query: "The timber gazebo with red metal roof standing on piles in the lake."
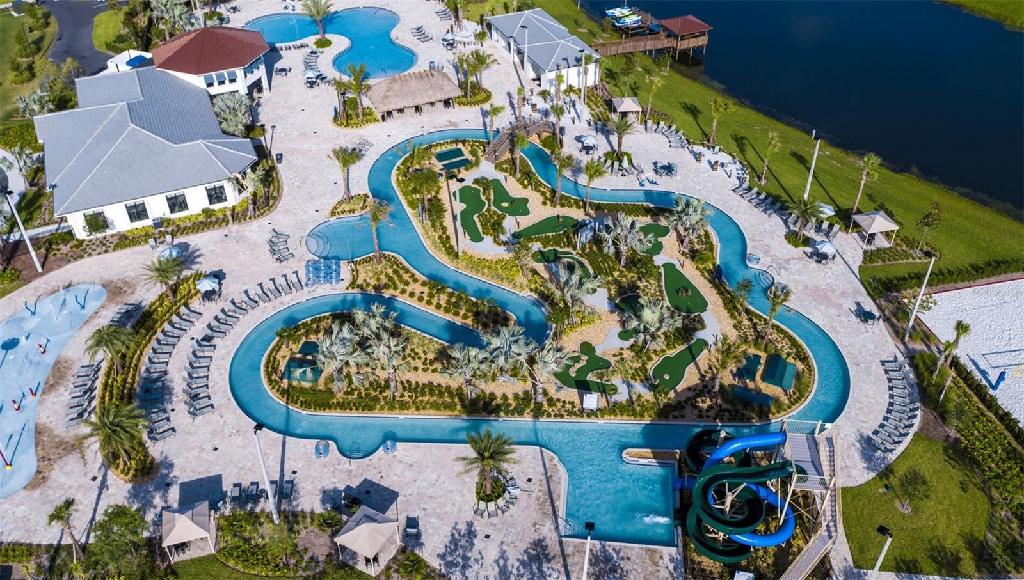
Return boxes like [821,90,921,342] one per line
[658,12,713,57]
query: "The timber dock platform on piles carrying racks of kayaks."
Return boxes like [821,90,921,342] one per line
[617,0,663,33]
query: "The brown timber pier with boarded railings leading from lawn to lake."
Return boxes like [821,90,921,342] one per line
[593,32,674,59]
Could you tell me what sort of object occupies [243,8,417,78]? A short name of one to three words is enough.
swimming pool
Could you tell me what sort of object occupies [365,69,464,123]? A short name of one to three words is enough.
shed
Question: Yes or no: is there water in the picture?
Yes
